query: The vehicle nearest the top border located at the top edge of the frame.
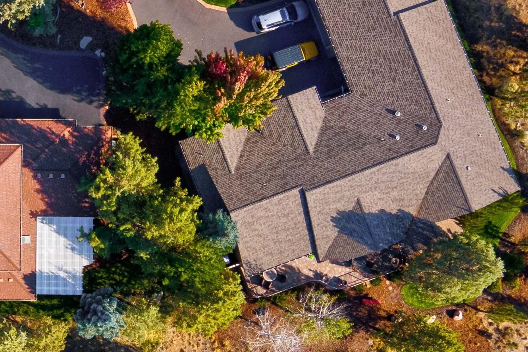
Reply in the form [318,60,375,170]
[247,1,307,35]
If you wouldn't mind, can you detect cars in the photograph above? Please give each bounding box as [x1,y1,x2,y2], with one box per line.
[265,41,317,73]
[247,1,307,35]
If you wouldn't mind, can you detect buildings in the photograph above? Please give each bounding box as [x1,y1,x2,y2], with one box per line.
[178,0,521,279]
[0,118,114,301]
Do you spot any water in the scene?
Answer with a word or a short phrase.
No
